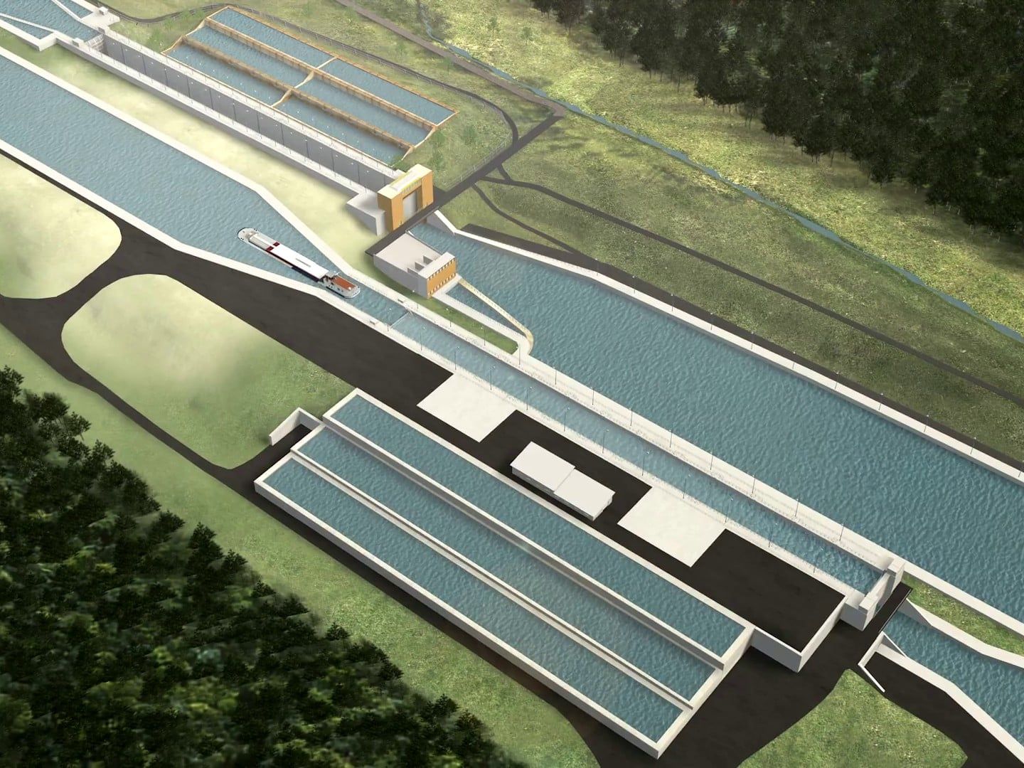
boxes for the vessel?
[239,229,360,302]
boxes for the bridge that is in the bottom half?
[868,581,915,634]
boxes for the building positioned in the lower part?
[508,441,616,519]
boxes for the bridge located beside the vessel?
[365,201,445,263]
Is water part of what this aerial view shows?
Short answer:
Yes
